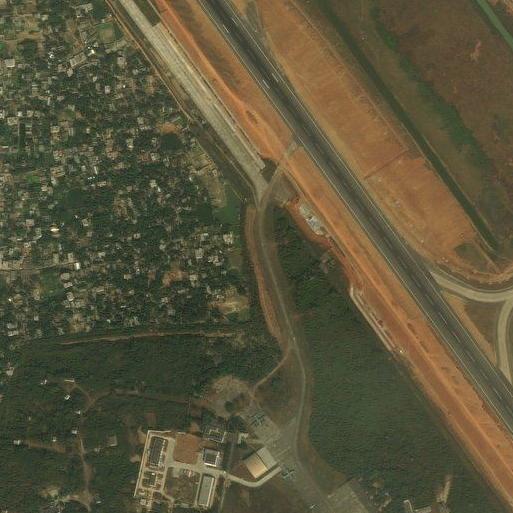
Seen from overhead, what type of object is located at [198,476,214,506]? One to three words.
building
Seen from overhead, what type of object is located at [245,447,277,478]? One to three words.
hangar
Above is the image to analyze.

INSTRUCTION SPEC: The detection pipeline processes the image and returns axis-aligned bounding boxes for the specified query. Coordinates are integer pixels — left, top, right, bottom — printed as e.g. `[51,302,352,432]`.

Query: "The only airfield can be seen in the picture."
[195,0,513,438]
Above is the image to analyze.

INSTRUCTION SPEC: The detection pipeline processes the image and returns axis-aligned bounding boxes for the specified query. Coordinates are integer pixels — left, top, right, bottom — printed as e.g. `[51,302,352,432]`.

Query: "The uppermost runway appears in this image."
[120,0,300,205]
